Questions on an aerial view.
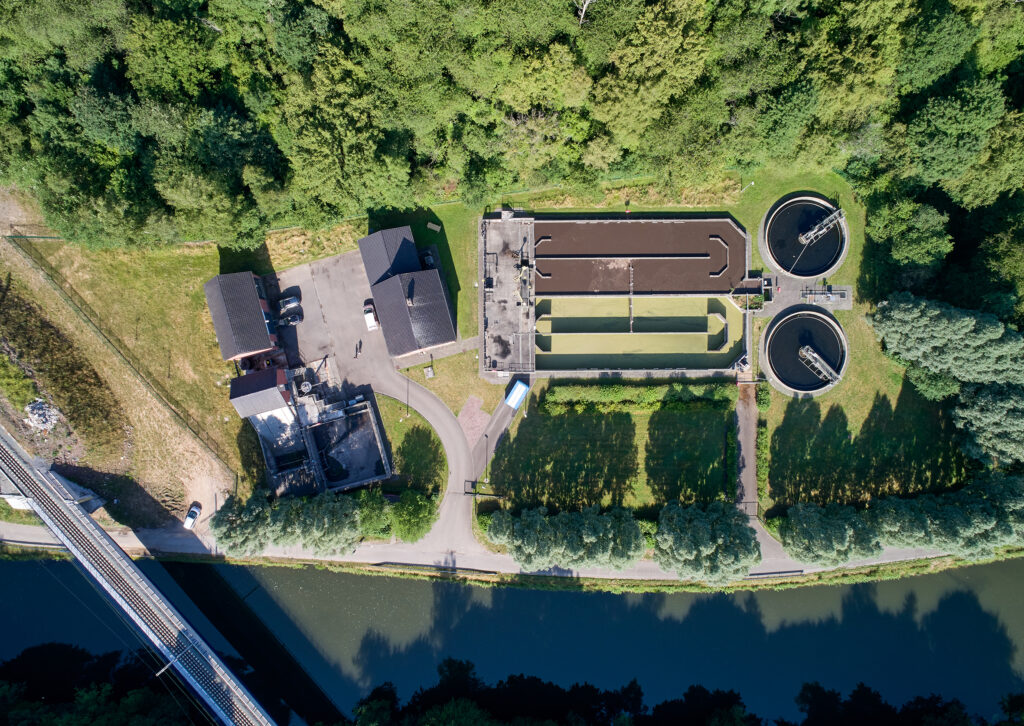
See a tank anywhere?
Yes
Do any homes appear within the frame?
Yes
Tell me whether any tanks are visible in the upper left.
No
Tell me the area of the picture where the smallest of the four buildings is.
right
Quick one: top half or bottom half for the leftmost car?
bottom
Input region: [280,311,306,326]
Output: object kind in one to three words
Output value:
car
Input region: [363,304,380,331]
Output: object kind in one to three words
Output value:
vehicle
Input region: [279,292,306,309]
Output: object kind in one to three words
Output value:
car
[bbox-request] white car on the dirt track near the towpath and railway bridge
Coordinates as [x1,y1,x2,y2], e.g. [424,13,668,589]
[182,502,204,530]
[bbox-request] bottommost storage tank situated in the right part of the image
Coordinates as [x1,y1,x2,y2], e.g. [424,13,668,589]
[760,307,850,397]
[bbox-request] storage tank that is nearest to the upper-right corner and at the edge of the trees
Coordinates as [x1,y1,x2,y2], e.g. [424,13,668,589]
[759,193,850,284]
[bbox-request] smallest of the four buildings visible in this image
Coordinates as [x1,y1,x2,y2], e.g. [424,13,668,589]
[801,286,852,309]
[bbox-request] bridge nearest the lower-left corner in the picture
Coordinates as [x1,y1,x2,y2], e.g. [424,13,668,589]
[0,435,282,726]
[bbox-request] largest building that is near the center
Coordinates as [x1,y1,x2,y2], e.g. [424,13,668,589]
[357,225,456,358]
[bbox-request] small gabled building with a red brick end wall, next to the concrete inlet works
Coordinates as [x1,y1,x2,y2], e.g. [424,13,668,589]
[228,368,295,419]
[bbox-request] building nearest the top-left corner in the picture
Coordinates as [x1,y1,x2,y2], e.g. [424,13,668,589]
[203,272,281,361]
